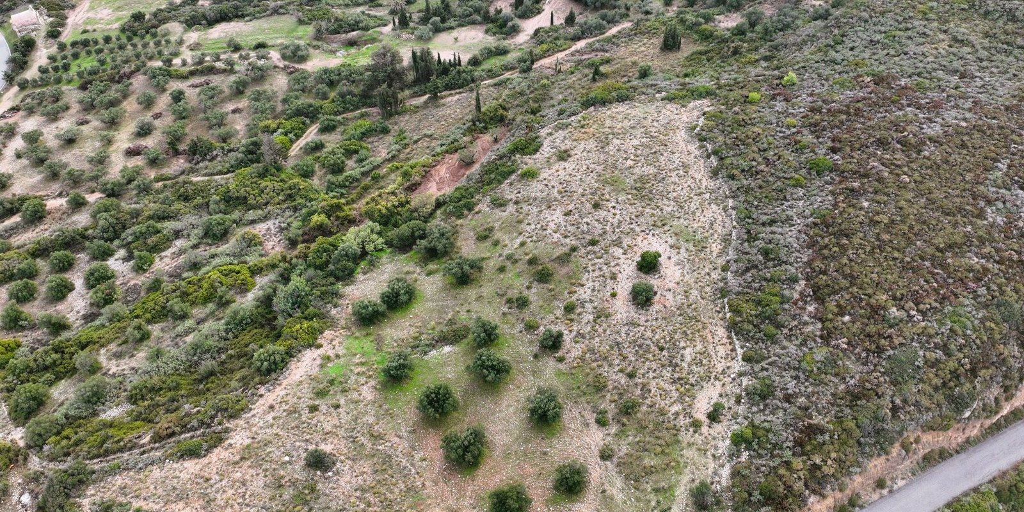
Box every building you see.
[5,3,51,30]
